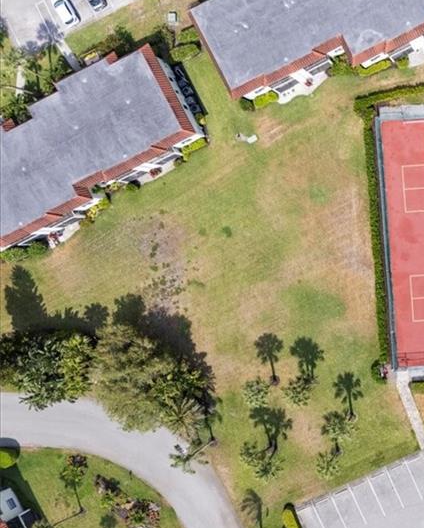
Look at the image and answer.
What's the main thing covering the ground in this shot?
grass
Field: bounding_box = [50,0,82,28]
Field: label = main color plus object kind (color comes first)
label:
white car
